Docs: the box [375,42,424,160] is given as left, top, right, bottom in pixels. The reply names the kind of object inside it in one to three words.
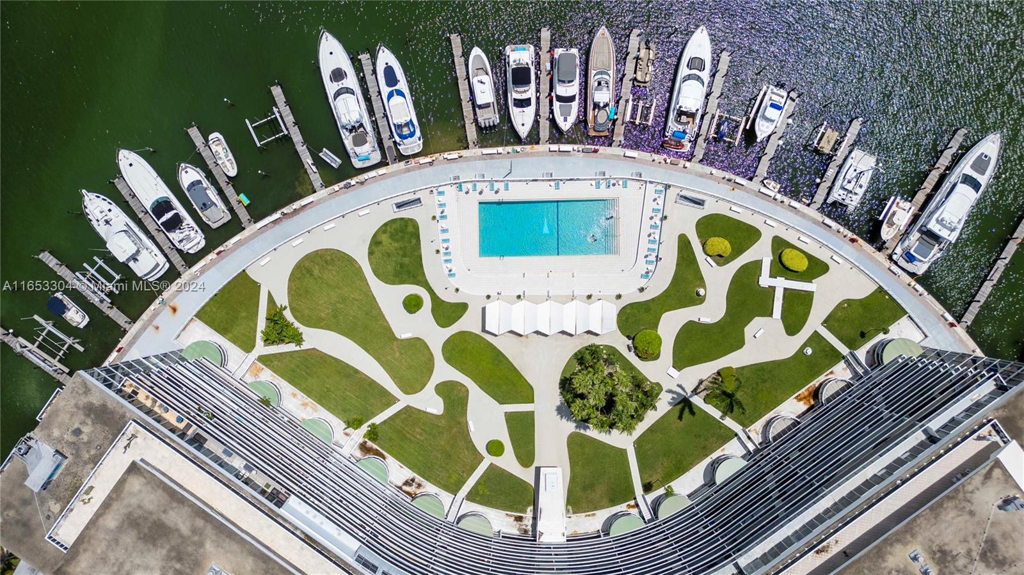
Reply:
boat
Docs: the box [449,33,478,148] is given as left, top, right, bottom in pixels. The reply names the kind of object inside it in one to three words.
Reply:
pier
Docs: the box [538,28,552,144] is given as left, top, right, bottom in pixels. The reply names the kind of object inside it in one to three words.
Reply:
pier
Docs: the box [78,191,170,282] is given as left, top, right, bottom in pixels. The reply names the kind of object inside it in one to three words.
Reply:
boat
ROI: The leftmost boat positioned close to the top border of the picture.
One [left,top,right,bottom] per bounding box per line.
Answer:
[317,28,379,173]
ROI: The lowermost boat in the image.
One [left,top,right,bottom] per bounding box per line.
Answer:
[47,293,92,329]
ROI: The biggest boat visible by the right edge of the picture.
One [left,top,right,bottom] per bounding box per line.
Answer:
[888,132,1005,276]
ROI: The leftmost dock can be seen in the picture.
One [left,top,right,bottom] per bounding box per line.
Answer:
[0,322,75,385]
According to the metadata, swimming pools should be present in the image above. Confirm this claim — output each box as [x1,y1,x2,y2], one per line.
[433,180,666,297]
